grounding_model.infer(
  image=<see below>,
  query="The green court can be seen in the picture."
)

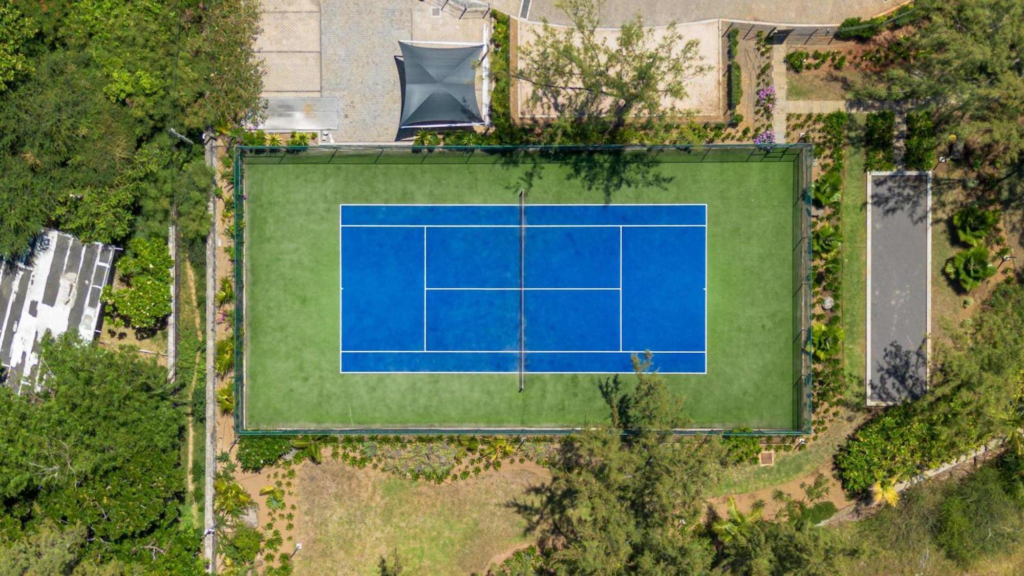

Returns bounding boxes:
[243,151,804,431]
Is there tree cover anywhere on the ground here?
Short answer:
Yes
